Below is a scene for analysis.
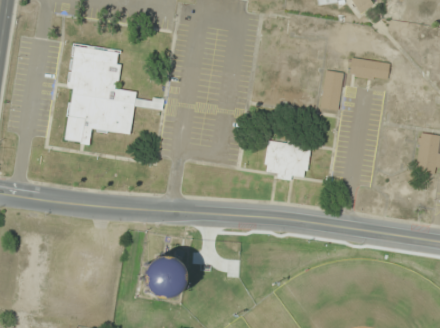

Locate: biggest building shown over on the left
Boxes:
[64,44,165,146]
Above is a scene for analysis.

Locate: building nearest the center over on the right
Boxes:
[266,142,312,181]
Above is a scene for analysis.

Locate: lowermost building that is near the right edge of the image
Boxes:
[416,134,440,177]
